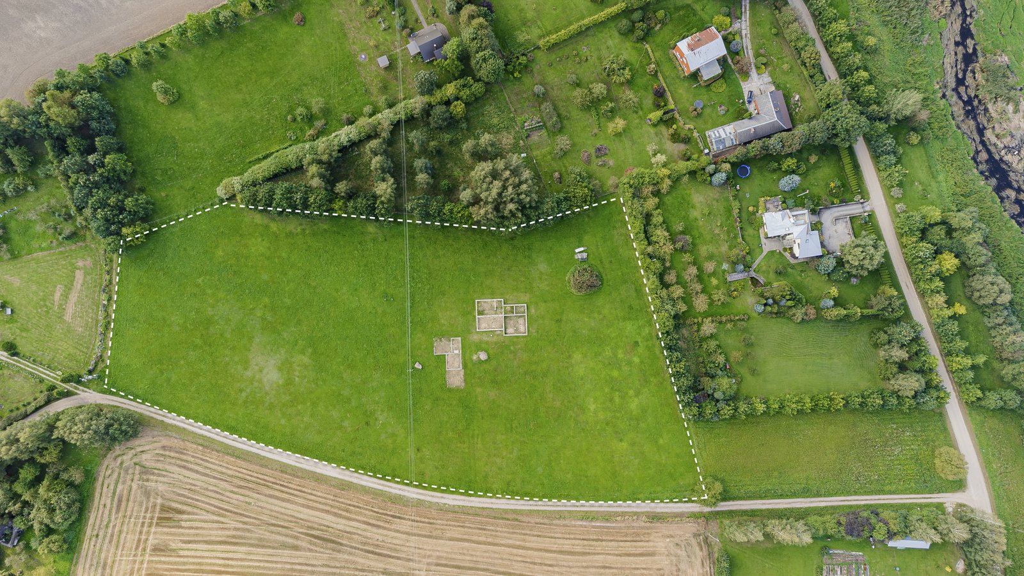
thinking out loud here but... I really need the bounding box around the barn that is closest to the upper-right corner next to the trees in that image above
[732,91,792,144]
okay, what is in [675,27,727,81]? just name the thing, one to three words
house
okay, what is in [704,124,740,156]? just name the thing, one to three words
greenhouse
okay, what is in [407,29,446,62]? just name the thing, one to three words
house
